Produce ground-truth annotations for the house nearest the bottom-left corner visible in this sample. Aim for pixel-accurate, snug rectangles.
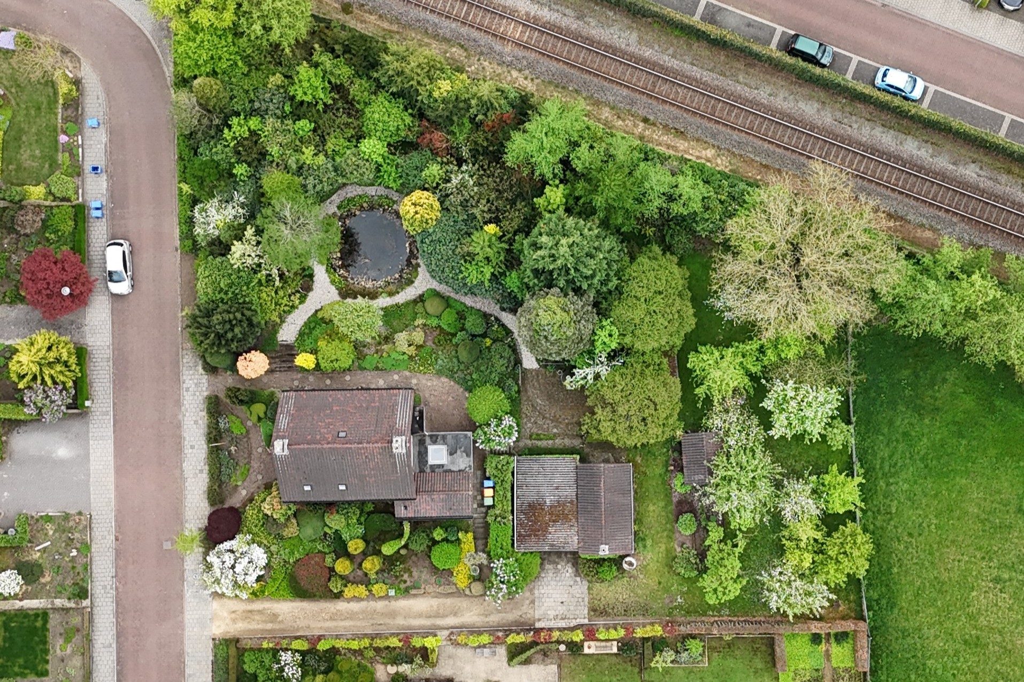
[270,387,473,521]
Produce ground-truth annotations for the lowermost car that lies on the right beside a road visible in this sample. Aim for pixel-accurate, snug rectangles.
[870,65,926,103]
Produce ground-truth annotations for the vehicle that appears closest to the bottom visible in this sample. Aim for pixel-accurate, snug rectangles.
[104,240,135,295]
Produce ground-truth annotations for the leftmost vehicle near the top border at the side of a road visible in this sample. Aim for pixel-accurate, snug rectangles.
[782,31,837,70]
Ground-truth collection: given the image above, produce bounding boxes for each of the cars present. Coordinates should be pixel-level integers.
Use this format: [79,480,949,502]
[997,0,1024,17]
[104,240,135,295]
[870,65,926,103]
[782,31,837,70]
